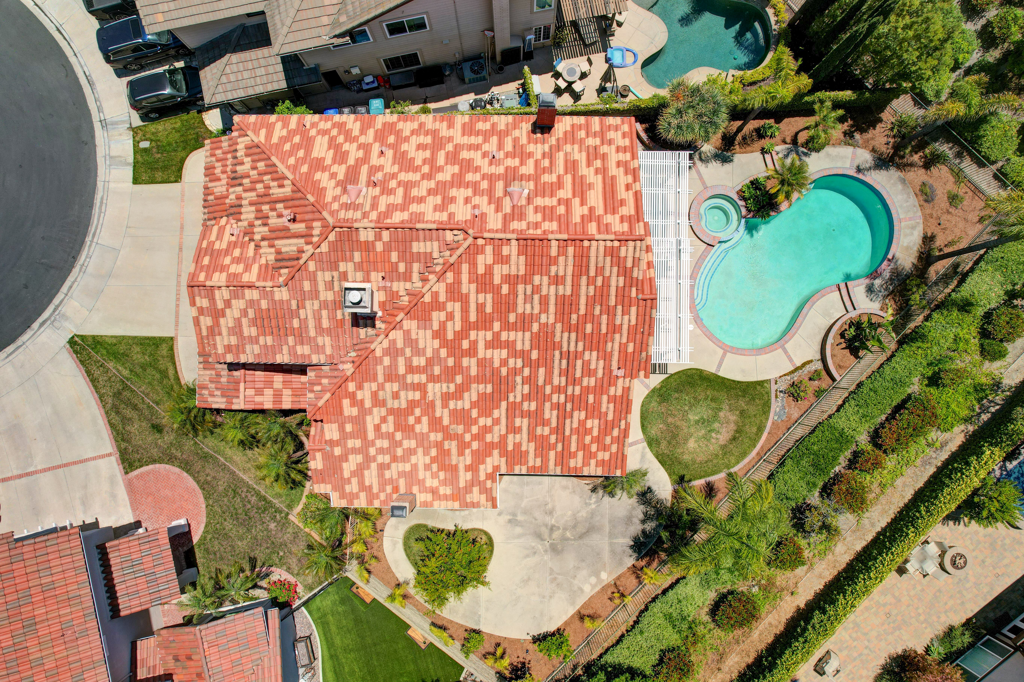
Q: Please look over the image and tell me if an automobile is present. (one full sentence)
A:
Yes, the frame does contain an automobile.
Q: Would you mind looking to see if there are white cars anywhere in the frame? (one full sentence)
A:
No, I find no white car anywhere in the image.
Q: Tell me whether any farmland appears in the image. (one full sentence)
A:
No, the scene doesn't show any farmland.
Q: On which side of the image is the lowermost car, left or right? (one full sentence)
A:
The lowermost car is on the left side of the image.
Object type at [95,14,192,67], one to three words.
car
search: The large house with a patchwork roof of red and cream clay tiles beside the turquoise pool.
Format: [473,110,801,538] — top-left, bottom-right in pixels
[186,93,658,519]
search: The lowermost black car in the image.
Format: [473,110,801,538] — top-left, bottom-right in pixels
[123,63,204,119]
